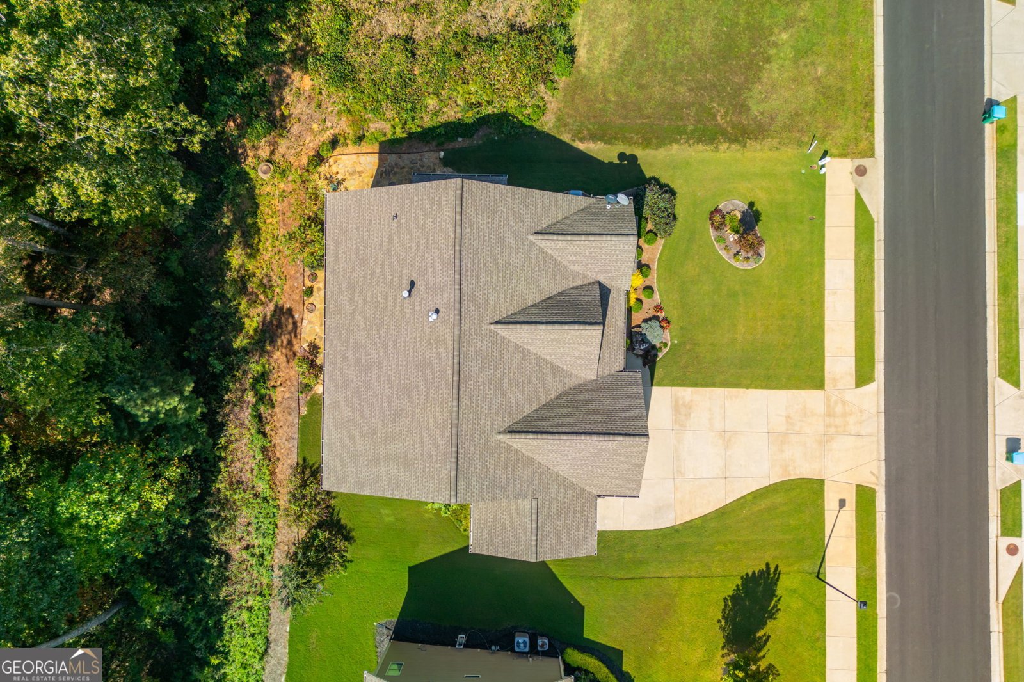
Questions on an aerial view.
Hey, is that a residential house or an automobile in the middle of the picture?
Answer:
residential house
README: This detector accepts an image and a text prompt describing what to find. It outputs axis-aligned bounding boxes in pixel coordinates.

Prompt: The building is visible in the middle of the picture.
[318,167,649,562]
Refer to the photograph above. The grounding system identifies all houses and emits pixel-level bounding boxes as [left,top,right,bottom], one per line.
[318,167,649,562]
[363,640,570,682]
